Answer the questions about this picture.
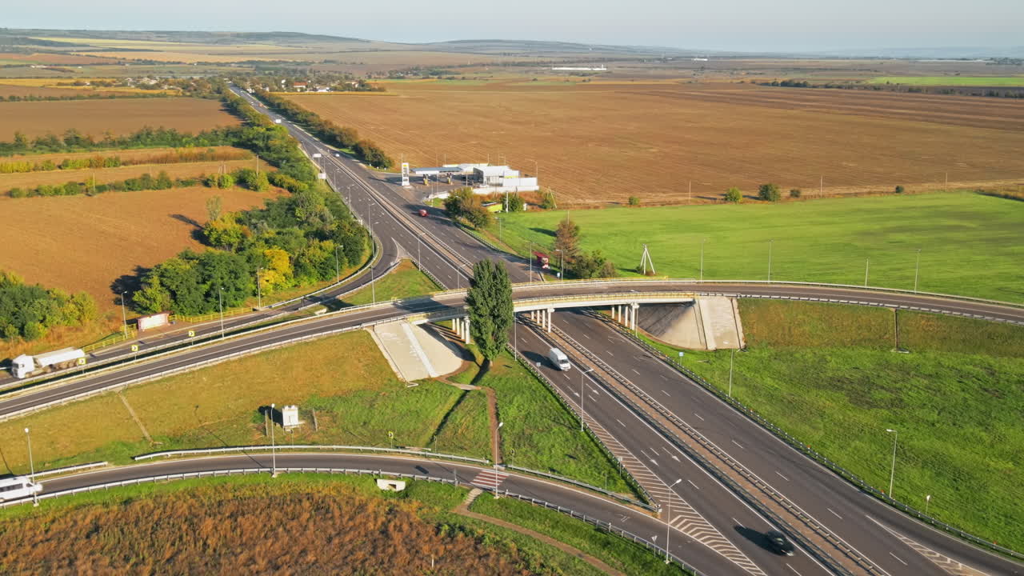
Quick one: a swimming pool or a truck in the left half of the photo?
truck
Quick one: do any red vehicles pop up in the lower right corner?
No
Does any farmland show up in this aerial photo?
Yes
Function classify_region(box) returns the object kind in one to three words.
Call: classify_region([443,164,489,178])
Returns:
building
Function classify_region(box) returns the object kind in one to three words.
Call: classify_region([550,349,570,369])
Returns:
vehicle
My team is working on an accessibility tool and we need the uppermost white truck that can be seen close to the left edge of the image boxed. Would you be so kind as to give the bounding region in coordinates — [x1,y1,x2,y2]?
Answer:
[8,346,83,378]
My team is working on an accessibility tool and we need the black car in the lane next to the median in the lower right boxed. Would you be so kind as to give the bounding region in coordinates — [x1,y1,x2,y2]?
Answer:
[765,531,796,554]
